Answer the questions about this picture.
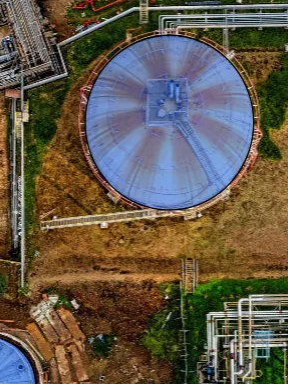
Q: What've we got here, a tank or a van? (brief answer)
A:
tank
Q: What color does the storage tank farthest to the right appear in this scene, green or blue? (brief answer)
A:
blue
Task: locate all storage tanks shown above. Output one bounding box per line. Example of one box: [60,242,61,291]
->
[0,329,48,384]
[80,28,265,219]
